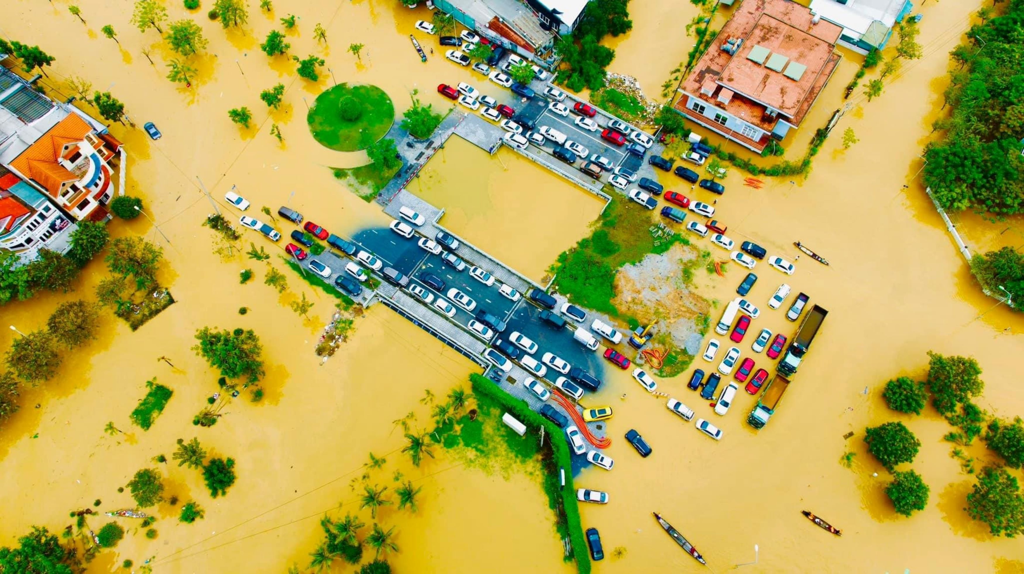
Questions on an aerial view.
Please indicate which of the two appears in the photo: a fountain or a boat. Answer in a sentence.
This aerial view contains a boat.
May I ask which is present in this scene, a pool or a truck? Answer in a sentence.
Of the two, only a truck appears.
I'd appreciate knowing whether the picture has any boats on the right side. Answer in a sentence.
Yes, on the right side there is a boat.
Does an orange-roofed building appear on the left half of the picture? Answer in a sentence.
Yes, I can see an orange-roofed building on the left half of the picture.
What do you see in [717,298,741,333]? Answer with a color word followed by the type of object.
white vehicle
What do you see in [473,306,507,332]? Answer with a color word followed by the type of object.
blue truck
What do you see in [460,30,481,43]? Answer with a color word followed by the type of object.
white vehicle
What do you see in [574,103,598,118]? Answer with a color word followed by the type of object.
red car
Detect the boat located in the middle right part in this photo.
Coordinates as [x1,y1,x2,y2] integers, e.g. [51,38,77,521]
[793,241,830,266]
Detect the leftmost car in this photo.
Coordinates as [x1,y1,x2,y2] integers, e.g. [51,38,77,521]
[143,121,162,140]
